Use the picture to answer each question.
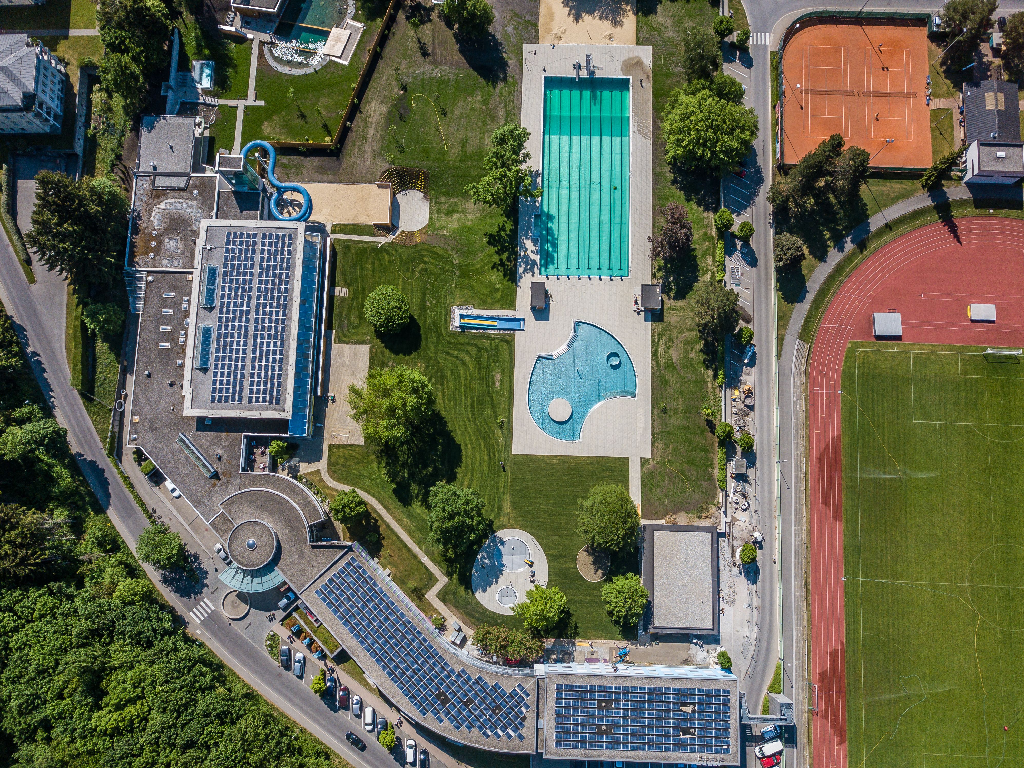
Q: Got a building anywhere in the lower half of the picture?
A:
Yes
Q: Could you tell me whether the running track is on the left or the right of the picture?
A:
right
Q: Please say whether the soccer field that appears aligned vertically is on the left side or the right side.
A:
right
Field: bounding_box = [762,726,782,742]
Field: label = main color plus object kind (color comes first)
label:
blue car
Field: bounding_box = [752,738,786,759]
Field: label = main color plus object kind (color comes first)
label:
white vehicle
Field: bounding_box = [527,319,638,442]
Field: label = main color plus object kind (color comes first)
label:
blue swimming pool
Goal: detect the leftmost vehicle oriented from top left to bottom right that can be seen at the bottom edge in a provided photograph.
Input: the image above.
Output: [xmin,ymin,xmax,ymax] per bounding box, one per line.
[344,729,368,753]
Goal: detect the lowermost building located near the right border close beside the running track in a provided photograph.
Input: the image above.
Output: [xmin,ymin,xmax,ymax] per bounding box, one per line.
[956,140,1024,188]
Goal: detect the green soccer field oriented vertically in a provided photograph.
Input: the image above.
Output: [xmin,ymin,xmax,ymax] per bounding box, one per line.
[841,341,1024,768]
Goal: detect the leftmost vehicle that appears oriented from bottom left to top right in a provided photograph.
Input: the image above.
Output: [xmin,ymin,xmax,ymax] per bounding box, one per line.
[276,590,297,609]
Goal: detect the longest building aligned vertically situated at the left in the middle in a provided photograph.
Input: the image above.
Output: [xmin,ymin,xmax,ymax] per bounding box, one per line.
[124,174,353,595]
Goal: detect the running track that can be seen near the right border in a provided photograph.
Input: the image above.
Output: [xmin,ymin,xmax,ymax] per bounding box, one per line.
[809,216,1024,768]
